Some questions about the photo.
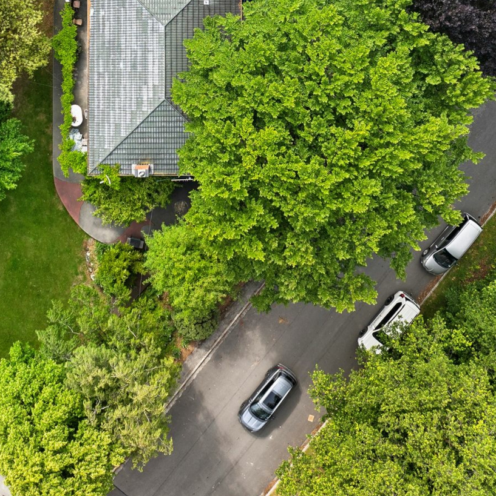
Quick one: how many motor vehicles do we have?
3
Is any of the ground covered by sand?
No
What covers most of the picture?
trees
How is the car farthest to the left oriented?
on a diagonal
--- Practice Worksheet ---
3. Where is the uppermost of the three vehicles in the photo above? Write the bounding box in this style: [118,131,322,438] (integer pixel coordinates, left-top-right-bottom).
[421,210,486,278]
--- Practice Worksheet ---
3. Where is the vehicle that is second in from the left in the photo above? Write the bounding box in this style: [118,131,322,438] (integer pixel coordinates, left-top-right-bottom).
[356,288,422,362]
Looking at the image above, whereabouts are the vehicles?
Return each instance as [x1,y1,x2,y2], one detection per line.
[356,288,422,362]
[239,362,298,432]
[421,210,486,278]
